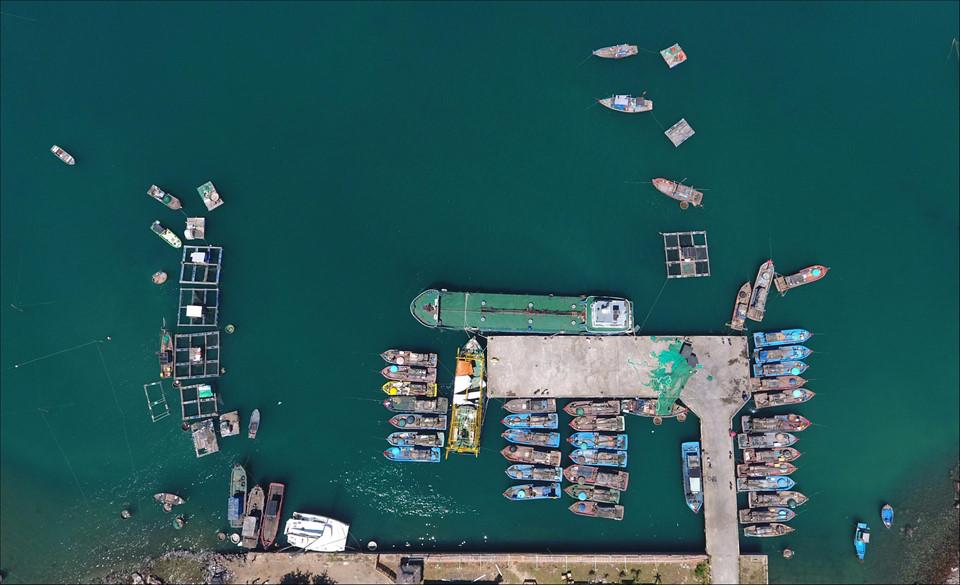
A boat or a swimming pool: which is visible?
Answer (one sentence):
Looking from above, you can make out a boat.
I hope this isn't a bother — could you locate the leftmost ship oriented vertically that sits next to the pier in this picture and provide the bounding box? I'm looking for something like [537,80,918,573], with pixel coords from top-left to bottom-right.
[445,337,485,458]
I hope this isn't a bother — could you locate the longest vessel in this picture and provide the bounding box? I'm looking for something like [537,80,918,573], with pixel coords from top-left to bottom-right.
[410,290,639,337]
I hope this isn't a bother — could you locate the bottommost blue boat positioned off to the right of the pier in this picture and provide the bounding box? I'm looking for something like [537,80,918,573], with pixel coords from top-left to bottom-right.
[854,522,871,566]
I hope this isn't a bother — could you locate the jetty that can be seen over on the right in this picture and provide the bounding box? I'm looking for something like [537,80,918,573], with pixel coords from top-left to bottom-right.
[488,335,751,585]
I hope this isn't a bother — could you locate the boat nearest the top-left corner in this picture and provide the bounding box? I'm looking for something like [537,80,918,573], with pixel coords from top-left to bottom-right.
[50,145,75,163]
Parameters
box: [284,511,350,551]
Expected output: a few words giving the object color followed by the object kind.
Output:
white boat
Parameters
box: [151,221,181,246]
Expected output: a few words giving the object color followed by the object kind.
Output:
white boat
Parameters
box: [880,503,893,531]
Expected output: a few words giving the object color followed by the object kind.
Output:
blue boat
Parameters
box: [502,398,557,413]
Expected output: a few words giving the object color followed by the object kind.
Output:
gray boat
